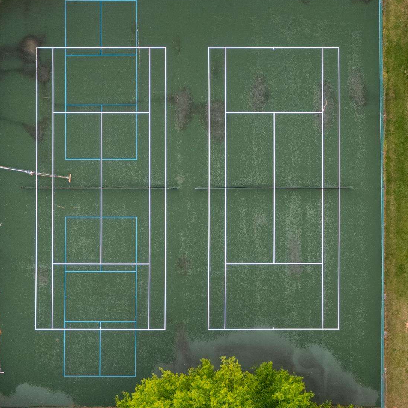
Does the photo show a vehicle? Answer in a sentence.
No, this view has no vehicle in it.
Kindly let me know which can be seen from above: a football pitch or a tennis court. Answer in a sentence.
It is a tennis court that can be seen here.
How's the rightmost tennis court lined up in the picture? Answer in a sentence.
Seen from above, the rightmost tennis court lies up and down.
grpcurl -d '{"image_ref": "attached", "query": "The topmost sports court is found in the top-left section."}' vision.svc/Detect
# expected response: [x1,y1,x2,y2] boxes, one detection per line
[65,0,137,159]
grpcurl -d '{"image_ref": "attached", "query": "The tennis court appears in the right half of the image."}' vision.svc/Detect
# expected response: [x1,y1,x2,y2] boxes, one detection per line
[205,45,342,333]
